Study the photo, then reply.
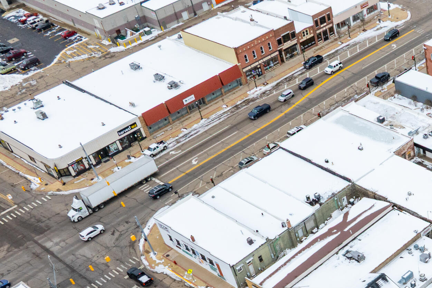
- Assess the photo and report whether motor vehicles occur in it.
Yes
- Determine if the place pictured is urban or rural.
urban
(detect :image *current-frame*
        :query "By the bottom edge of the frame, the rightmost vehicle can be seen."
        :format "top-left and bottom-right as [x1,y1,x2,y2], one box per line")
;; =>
[124,267,155,285]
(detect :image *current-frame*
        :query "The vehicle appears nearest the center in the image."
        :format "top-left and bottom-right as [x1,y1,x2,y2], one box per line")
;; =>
[237,156,260,168]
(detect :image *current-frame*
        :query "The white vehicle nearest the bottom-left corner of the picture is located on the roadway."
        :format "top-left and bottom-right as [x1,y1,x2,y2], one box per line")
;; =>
[79,225,106,241]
